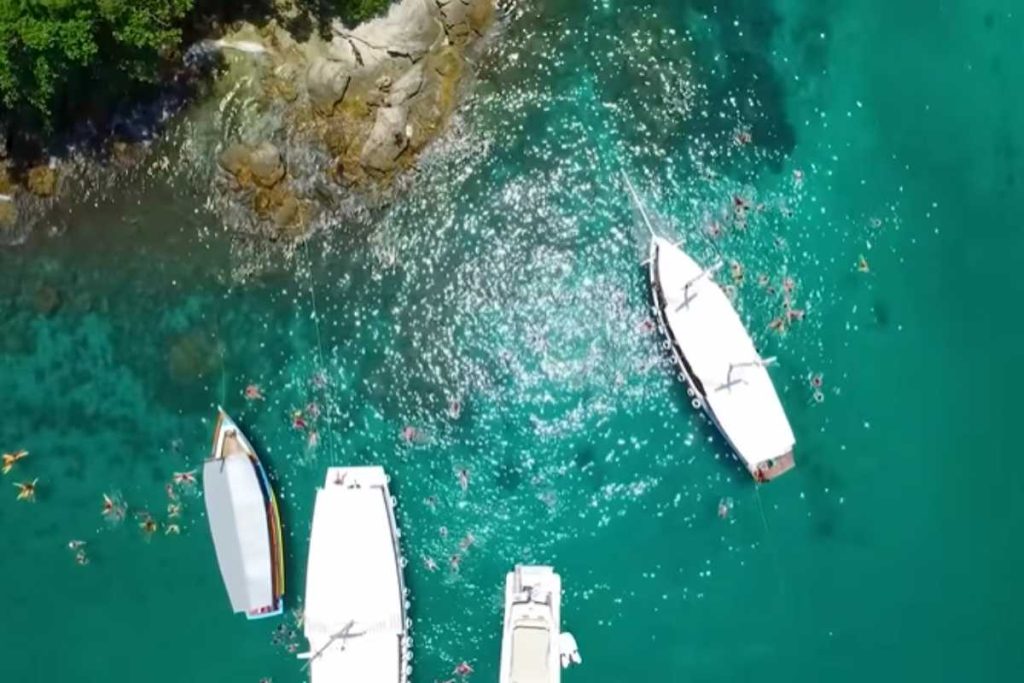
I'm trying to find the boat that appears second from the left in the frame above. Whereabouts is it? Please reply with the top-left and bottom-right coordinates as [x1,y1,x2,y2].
[298,464,414,683]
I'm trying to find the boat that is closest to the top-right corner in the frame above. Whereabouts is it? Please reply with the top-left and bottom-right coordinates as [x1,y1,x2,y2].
[622,170,800,481]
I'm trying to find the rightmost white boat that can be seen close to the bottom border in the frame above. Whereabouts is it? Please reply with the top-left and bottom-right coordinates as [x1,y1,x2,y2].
[561,630,583,669]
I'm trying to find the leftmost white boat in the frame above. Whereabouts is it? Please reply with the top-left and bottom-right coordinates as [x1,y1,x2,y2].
[202,407,287,622]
